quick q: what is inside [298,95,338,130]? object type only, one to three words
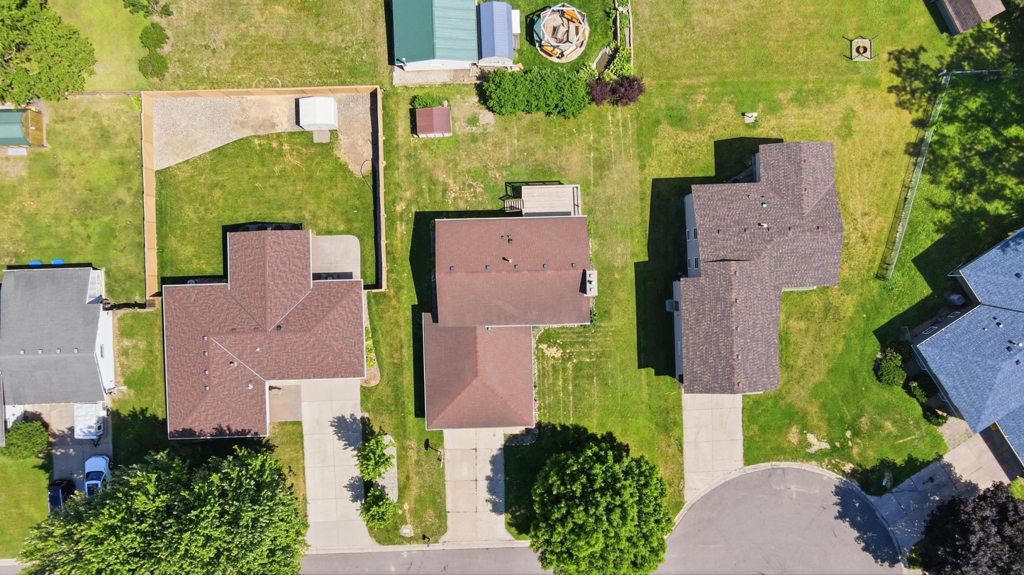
shed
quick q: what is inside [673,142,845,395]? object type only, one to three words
house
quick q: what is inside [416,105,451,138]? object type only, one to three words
shed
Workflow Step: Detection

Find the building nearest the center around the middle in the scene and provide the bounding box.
[423,184,598,430]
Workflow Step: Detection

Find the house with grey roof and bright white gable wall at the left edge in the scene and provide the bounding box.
[0,267,117,446]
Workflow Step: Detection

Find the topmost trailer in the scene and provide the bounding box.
[75,403,112,449]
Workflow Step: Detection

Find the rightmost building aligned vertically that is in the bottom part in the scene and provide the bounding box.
[909,216,1024,478]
